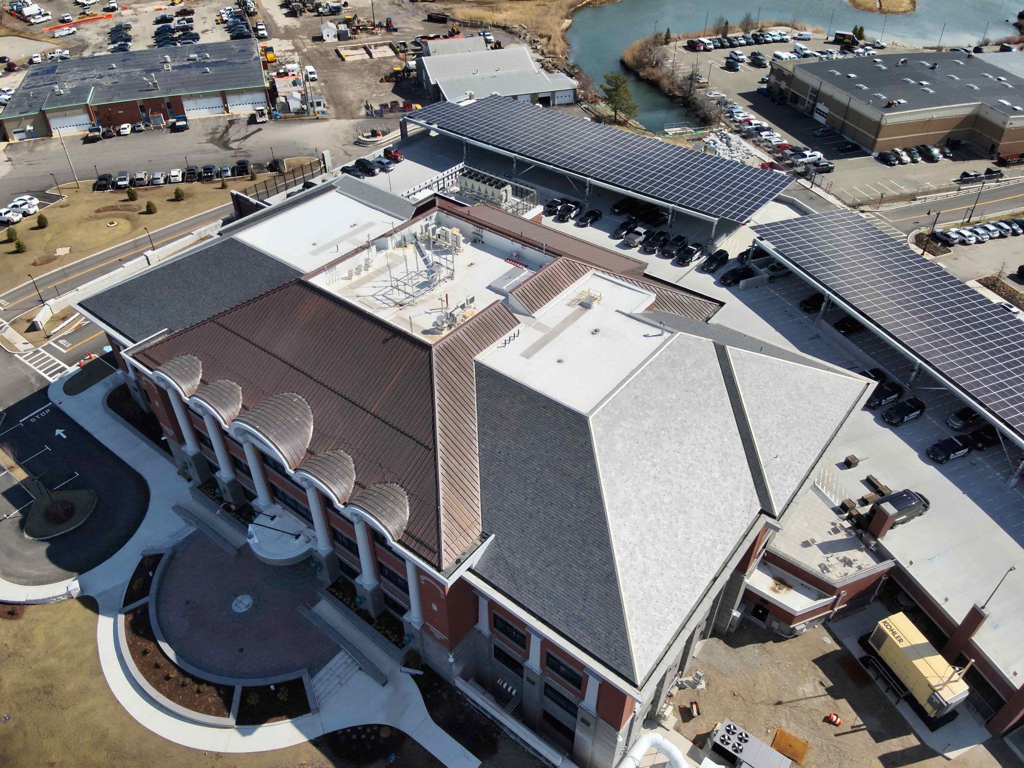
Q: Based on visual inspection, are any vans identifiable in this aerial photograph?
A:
Yes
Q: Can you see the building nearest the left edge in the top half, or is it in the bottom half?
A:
top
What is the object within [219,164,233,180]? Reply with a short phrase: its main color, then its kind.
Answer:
gray car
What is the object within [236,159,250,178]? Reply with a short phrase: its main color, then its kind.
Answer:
black vehicle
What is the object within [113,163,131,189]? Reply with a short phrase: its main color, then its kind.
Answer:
gray vehicle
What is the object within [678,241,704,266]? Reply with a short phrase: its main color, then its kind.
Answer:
black car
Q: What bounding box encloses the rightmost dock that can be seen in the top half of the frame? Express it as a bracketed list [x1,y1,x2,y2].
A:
[664,119,697,138]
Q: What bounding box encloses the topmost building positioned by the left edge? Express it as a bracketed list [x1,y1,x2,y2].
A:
[0,39,269,144]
